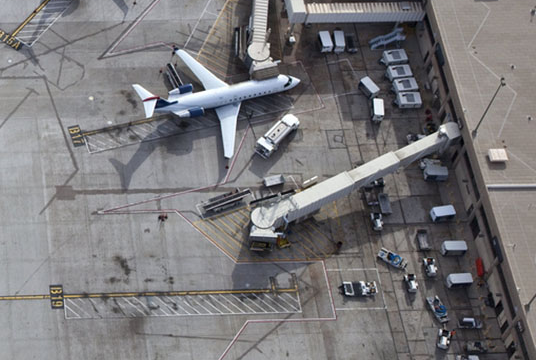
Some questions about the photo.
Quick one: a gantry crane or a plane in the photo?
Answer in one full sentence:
This aerial view contains a plane.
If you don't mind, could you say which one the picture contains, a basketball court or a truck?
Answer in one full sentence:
Looking from above, you can make out a truck.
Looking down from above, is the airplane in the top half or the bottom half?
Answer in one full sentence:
The top half of the photo is where the airplane is.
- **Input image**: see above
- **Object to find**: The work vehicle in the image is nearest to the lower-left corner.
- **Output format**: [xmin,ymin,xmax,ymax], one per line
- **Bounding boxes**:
[203,190,250,213]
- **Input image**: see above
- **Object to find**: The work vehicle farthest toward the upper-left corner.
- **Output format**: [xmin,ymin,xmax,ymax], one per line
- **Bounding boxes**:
[167,59,187,89]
